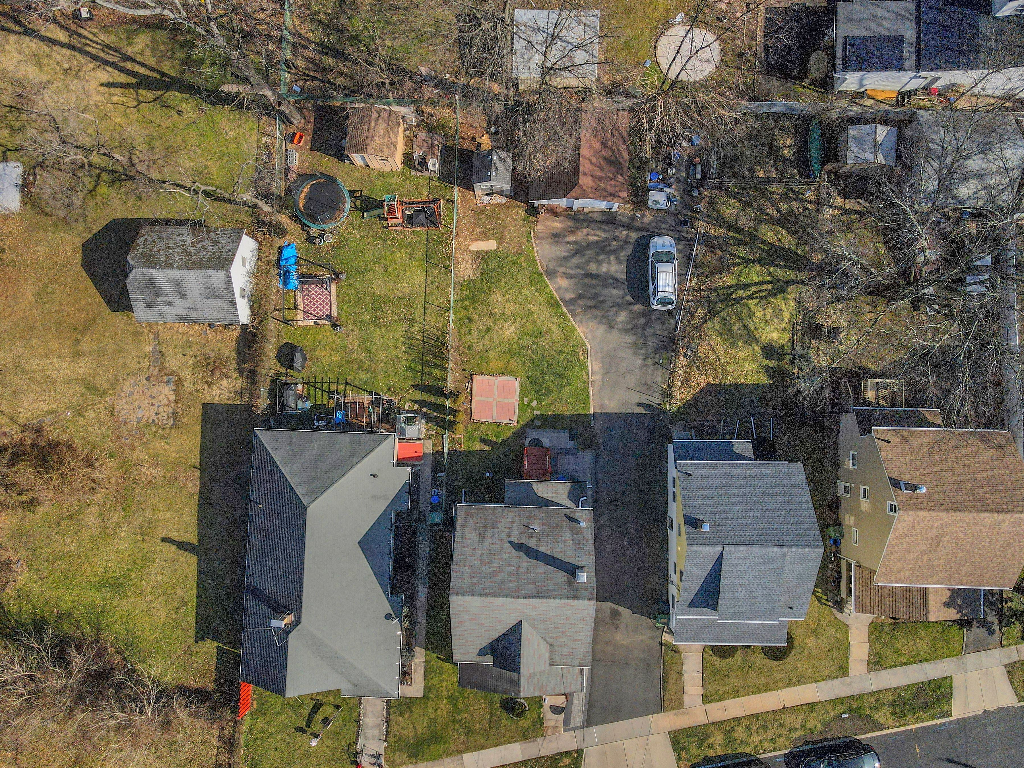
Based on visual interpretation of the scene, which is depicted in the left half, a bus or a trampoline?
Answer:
trampoline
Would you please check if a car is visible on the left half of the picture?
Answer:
No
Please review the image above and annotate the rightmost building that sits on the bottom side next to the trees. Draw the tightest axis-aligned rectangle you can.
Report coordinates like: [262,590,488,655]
[835,407,1024,621]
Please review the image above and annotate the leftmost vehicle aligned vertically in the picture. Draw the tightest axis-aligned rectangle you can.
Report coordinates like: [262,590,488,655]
[650,235,679,308]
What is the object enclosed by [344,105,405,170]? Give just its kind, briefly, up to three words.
shed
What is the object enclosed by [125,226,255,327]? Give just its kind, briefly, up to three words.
building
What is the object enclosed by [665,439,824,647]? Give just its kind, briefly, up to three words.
house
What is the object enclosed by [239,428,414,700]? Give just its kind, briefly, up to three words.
house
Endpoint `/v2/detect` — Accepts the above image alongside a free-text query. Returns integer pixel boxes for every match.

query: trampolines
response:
[293,175,351,236]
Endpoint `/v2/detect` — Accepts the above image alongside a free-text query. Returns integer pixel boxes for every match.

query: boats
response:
[810,118,824,179]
